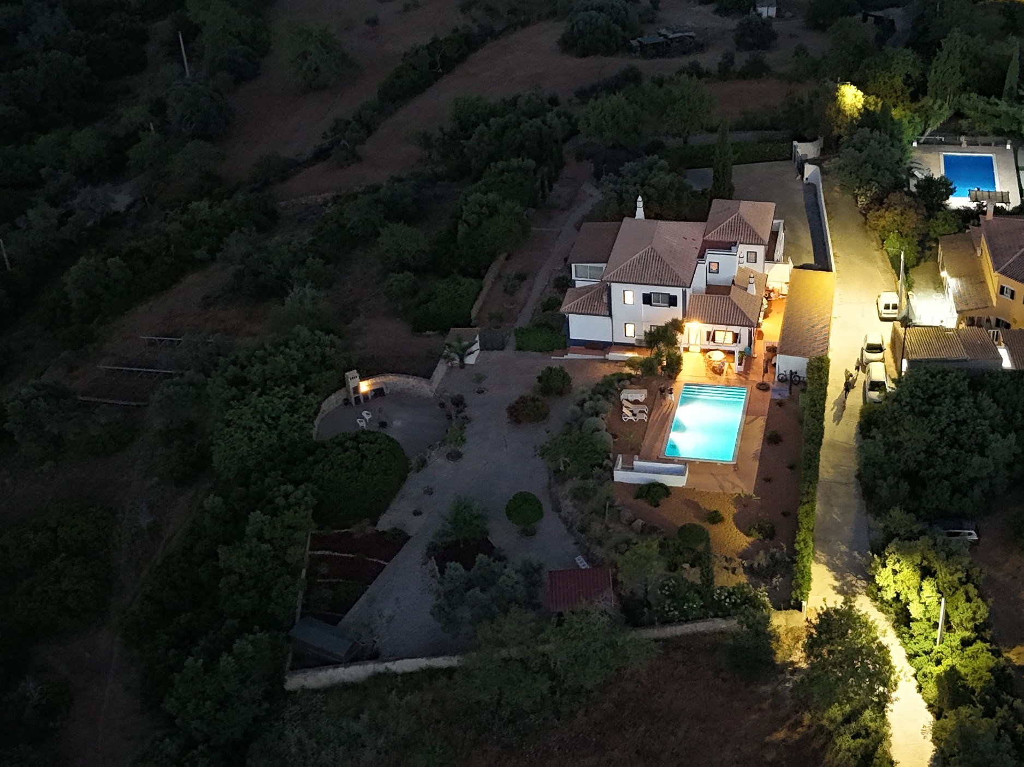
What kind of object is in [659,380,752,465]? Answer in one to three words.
swimming pool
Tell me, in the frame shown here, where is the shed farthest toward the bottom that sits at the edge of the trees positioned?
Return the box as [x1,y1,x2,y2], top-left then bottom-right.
[290,618,366,669]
